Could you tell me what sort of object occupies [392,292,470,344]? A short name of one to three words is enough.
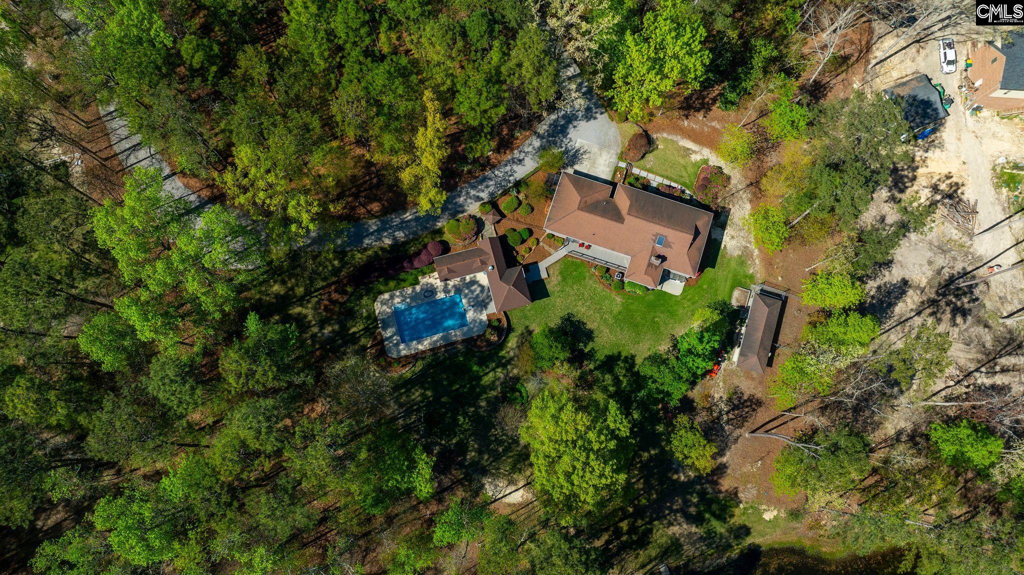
swimming pool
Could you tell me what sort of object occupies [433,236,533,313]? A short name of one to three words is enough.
building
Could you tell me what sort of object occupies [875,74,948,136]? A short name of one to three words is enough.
shed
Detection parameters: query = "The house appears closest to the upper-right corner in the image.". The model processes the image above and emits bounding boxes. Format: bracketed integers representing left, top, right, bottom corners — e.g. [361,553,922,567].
[967,33,1024,111]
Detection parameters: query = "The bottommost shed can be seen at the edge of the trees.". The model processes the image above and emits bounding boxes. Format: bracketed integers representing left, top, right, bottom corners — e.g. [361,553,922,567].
[734,293,782,375]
